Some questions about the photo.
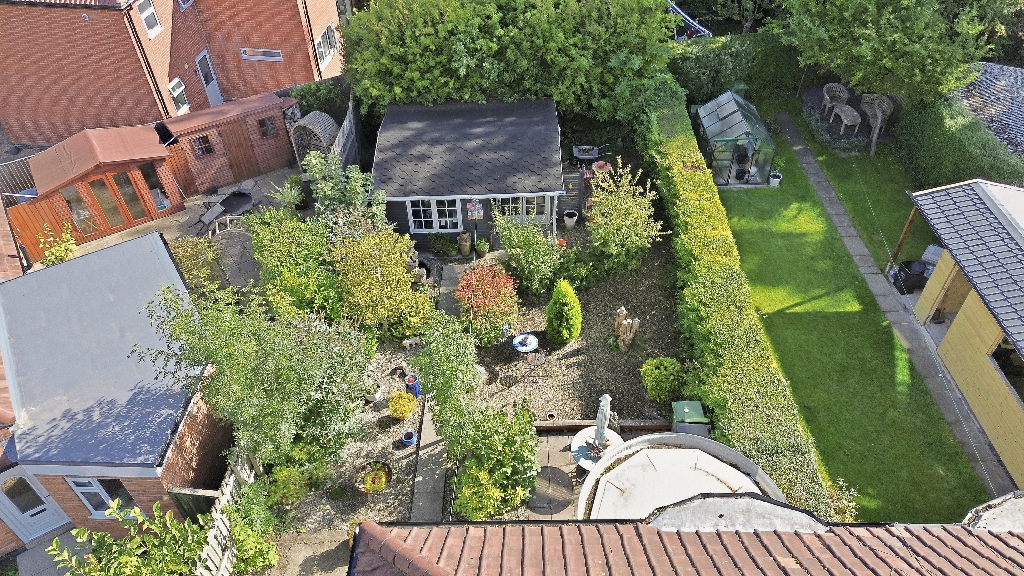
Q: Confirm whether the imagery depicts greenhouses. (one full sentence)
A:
Yes, looking at the shot, I can spot a greenhouse.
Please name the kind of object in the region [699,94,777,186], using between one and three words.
greenhouse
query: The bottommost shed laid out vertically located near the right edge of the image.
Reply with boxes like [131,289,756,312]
[886,176,1024,489]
